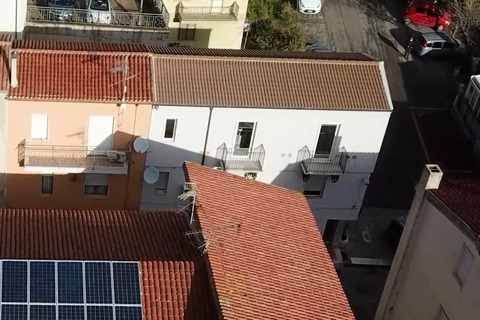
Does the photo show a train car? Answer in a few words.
No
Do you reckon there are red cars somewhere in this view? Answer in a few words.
Yes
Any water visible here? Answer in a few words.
No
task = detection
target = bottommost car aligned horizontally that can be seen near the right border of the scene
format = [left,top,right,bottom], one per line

[413,29,475,58]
